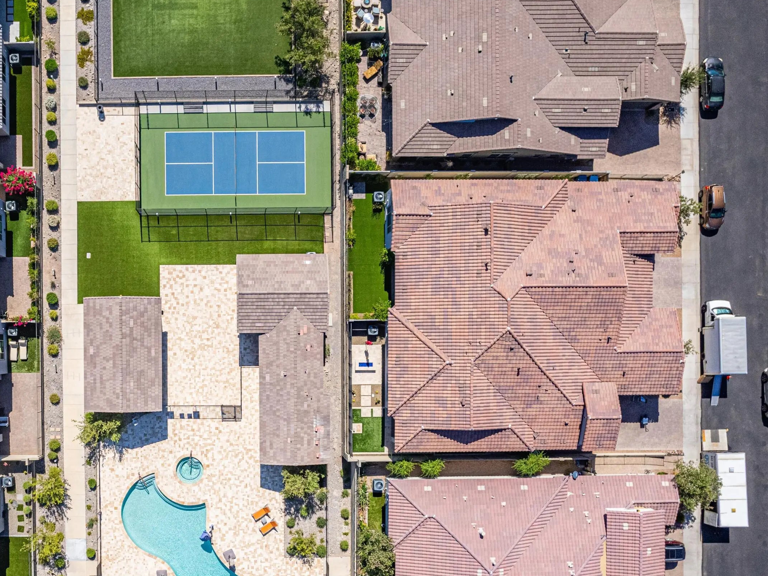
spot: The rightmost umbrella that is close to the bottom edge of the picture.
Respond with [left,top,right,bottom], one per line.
[224,549,236,567]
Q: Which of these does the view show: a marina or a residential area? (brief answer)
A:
residential area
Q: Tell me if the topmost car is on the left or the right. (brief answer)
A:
right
